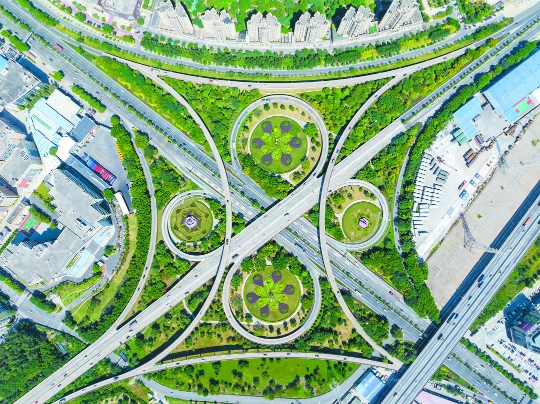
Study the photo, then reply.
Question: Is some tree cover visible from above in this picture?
Yes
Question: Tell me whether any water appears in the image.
No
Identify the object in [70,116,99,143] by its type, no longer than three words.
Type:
shed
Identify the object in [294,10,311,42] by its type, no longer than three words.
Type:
building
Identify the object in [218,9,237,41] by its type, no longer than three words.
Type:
building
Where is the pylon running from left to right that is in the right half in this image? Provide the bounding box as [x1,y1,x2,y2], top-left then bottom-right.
[462,239,498,258]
